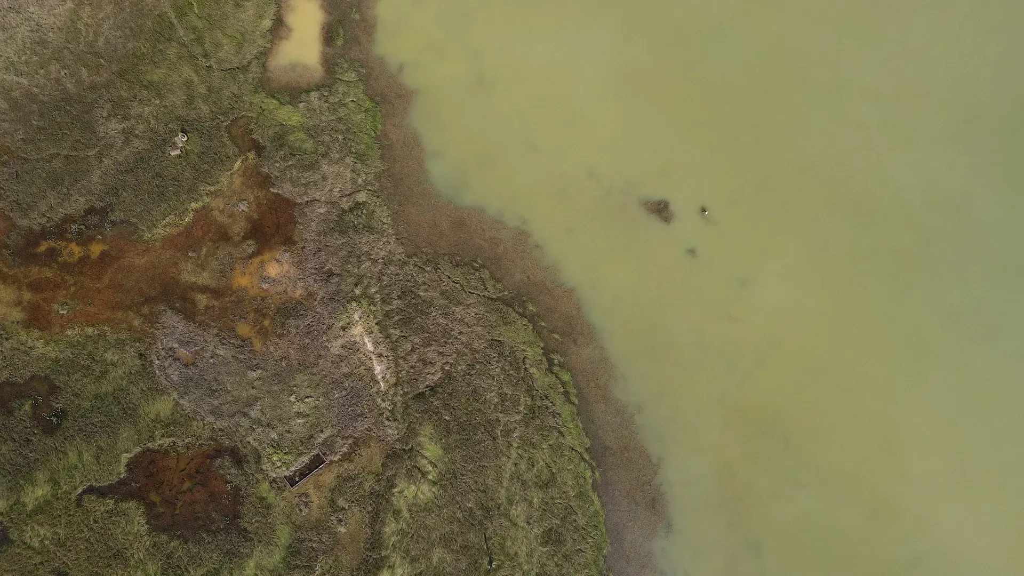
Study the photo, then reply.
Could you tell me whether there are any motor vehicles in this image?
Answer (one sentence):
No, this view has no motor vehicle in it.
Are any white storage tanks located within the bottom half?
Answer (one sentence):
No, I can find no white storage tank within the bottom half.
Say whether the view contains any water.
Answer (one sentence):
Yes, there is water in the image.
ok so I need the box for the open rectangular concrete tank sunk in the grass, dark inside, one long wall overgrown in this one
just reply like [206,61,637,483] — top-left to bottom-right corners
[286,452,326,490]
